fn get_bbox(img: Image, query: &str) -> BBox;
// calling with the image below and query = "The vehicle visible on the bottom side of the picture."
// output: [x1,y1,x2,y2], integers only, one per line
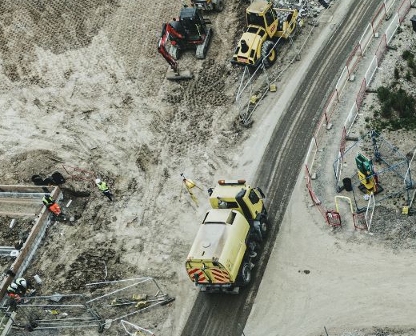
[183,176,270,303]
